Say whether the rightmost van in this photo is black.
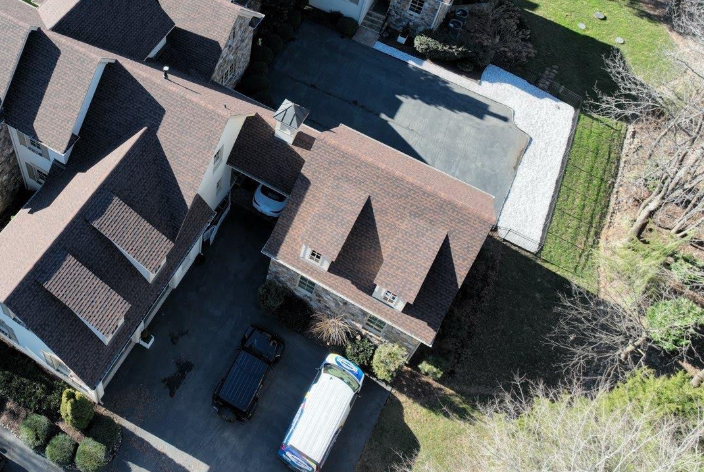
No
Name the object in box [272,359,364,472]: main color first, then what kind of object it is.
white van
